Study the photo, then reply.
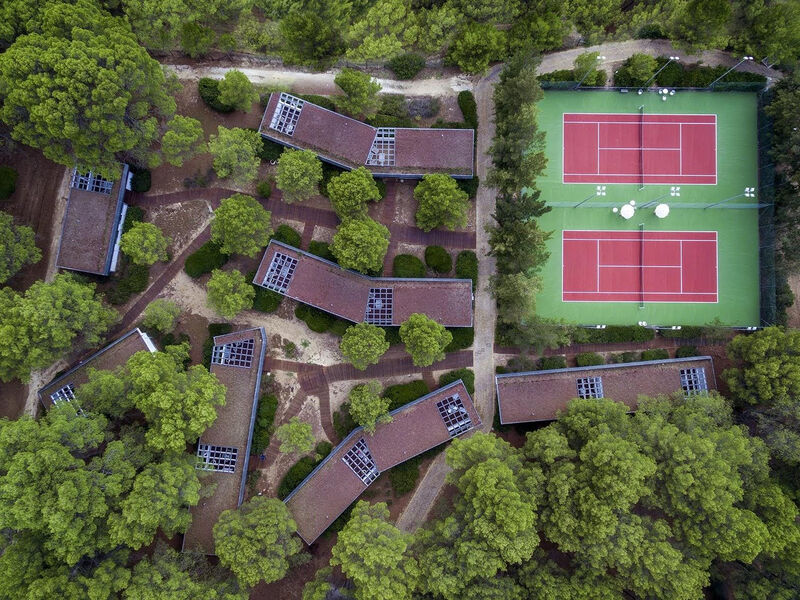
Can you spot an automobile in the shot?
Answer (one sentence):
No, the picture doesn't show any automobile.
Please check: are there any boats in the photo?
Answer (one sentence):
No, the frame has no boat in it.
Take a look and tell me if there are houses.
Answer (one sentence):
Yes, the frame does contain a house.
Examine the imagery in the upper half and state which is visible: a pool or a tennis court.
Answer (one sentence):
The one visible in the upper half is a tennis court.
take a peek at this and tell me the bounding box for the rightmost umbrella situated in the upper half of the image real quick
[653,204,668,218]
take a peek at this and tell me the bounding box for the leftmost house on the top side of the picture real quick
[55,163,130,276]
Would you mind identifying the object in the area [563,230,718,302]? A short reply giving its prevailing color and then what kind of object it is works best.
red tennis court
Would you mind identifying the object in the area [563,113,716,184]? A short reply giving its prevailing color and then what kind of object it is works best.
red tennis court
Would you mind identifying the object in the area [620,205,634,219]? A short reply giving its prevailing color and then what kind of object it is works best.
white umbrella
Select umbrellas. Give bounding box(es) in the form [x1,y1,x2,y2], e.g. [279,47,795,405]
[653,204,668,218]
[620,205,634,219]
